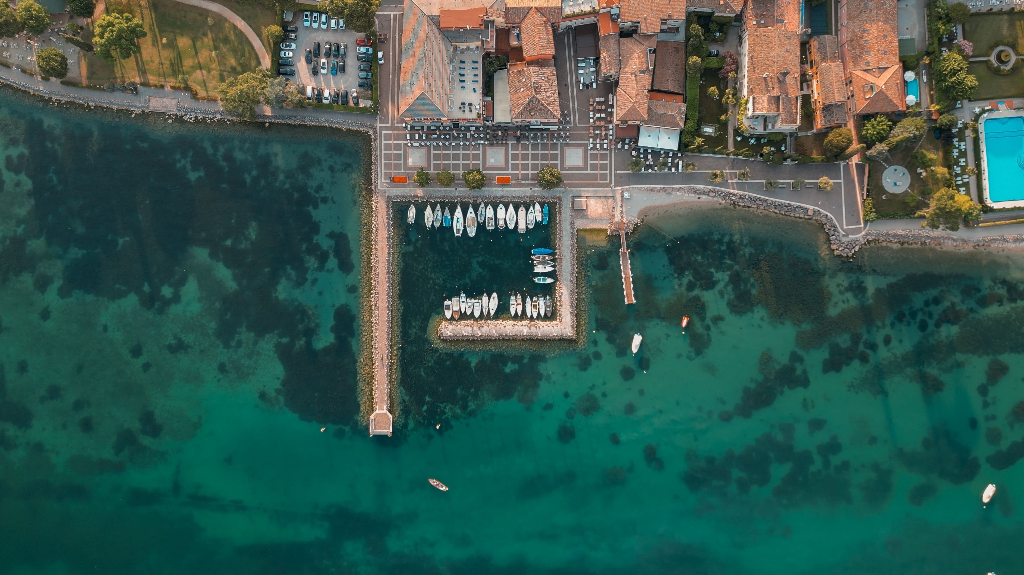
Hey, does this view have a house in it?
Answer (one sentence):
Yes, you can see a house in this photo.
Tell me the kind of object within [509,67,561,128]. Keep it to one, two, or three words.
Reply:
house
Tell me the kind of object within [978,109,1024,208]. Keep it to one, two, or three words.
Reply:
swimming pool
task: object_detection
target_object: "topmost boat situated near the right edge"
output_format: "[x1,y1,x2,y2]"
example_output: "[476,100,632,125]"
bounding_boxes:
[983,483,997,503]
